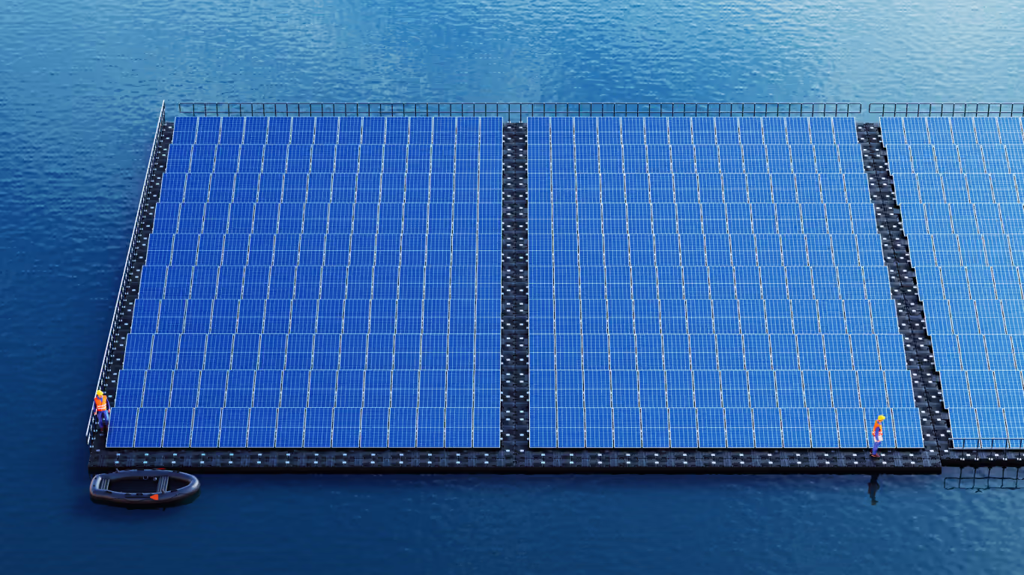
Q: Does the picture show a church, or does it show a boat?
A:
boat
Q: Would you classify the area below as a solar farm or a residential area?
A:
solar farm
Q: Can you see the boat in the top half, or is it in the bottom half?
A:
bottom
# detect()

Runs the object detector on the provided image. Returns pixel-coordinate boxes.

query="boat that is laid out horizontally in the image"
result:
[91,468,202,504]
